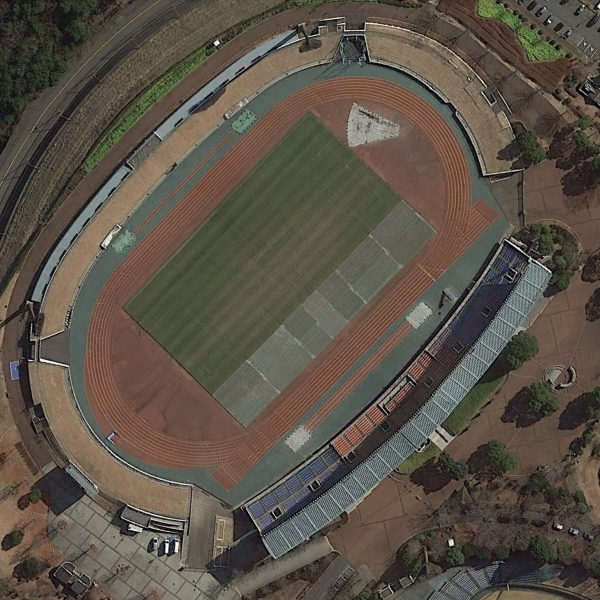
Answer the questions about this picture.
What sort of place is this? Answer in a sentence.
The area seen from above is a sports ground.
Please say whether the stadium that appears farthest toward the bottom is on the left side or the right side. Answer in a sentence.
It is on the right.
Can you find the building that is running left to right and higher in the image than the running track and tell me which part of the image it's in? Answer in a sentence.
You can find the building that is running left to right and higher in the image than the running track in the top area of the picture.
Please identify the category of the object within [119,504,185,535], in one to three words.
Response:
building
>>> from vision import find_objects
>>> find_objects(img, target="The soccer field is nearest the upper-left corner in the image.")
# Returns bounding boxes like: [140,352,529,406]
[121,112,435,428]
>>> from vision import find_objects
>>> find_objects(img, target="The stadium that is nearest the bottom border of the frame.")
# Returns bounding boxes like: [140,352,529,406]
[415,547,600,600]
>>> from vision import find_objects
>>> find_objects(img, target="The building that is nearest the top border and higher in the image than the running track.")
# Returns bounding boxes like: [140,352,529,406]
[299,16,346,40]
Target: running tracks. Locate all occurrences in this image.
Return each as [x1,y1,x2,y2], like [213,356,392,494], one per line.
[69,62,512,510]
